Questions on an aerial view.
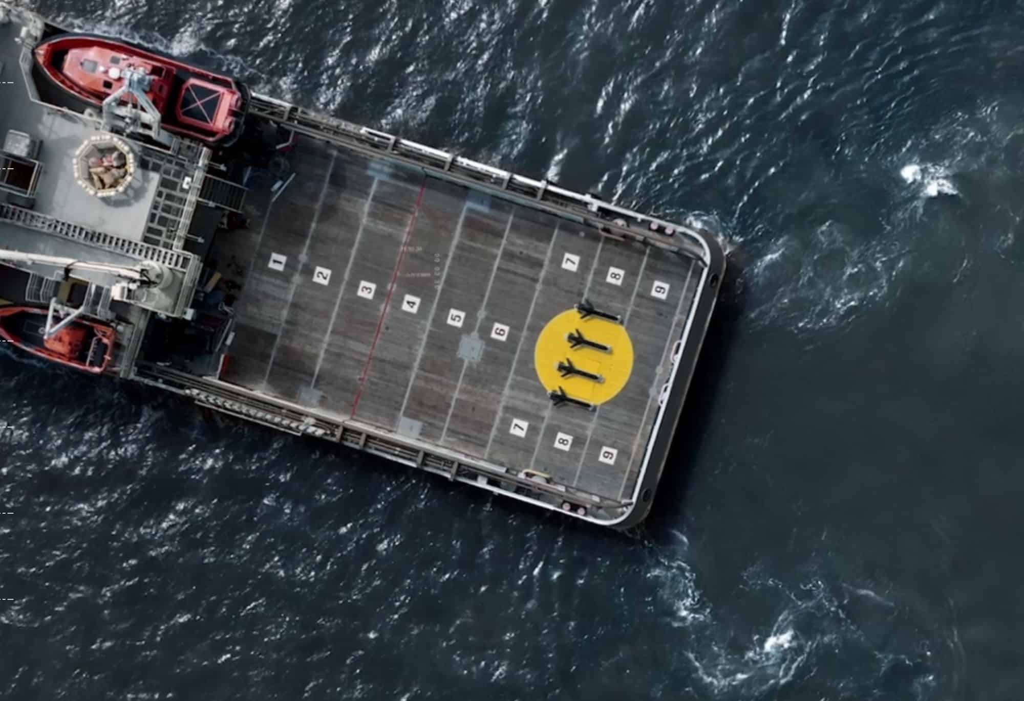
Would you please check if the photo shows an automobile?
No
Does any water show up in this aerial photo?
Yes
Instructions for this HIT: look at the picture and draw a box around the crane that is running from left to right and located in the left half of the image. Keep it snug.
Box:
[0,248,187,301]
